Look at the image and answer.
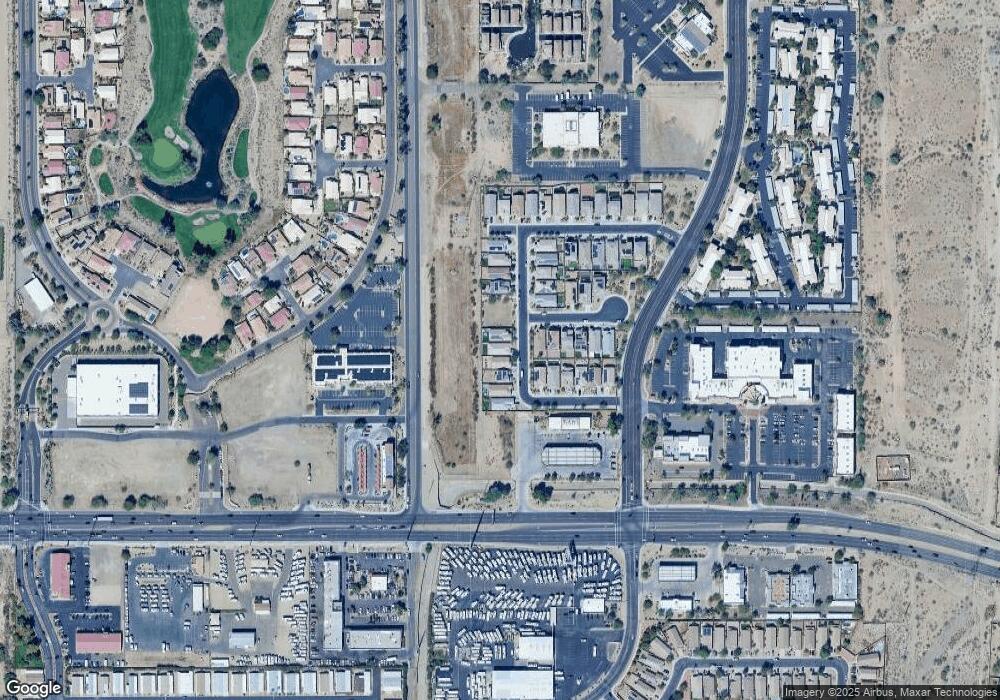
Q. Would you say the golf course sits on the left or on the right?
left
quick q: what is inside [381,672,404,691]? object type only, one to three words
house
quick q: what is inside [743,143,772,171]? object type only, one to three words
roundabout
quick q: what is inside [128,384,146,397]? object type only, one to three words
solar panel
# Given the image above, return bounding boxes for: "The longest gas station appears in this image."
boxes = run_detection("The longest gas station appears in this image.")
[542,447,602,466]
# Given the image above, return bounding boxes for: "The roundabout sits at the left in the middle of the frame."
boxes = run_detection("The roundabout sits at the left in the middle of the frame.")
[85,300,117,332]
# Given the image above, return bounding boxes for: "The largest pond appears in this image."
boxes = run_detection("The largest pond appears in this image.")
[143,69,239,204]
